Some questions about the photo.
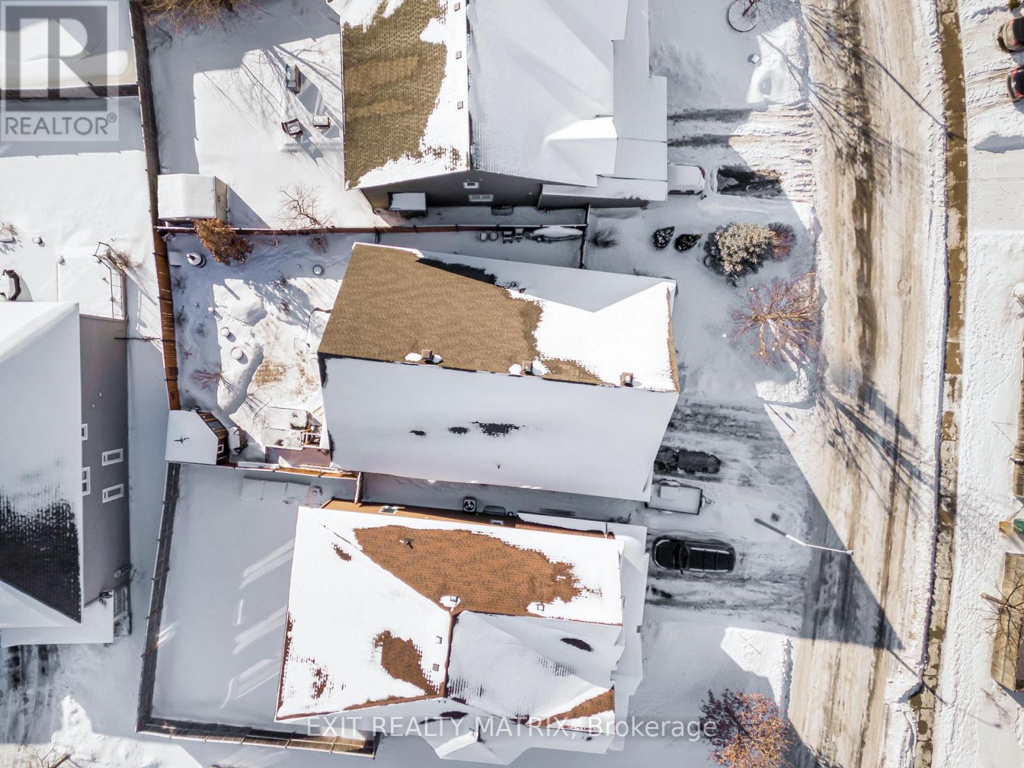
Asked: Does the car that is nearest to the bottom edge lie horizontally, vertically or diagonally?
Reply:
horizontally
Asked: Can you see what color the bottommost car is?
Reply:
black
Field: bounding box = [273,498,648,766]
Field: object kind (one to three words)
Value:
house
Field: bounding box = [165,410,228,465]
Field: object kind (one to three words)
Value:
shed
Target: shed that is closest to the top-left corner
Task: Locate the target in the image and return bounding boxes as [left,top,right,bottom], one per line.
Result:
[158,173,227,222]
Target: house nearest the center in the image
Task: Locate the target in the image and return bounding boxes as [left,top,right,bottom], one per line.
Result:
[317,242,680,510]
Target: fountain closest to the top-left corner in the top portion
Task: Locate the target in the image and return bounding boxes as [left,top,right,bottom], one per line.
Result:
[183,249,205,268]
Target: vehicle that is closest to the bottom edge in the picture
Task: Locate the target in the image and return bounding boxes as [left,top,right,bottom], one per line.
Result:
[651,534,736,576]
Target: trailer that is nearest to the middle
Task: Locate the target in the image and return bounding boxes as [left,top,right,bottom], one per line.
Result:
[652,476,726,519]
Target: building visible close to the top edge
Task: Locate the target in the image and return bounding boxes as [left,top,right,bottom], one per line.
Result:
[328,0,667,221]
